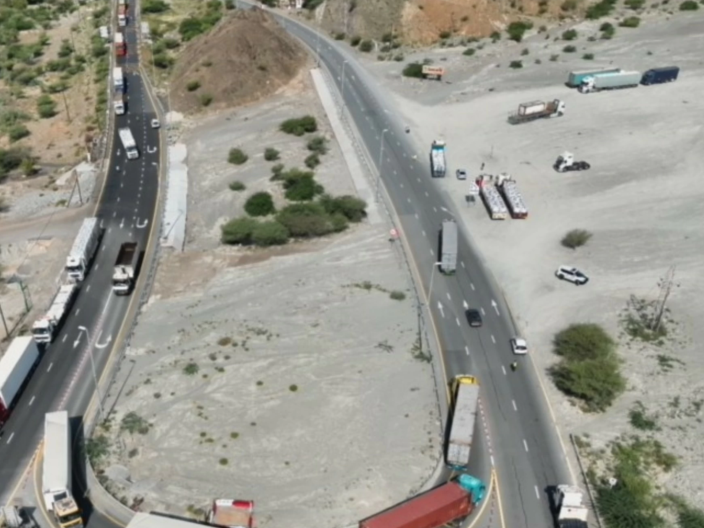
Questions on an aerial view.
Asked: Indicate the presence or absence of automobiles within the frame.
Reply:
Yes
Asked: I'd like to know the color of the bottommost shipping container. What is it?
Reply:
red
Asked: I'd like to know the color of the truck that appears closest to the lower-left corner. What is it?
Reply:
white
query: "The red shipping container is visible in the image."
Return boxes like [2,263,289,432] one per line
[361,481,469,528]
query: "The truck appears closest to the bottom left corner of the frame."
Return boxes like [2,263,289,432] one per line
[42,411,84,528]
